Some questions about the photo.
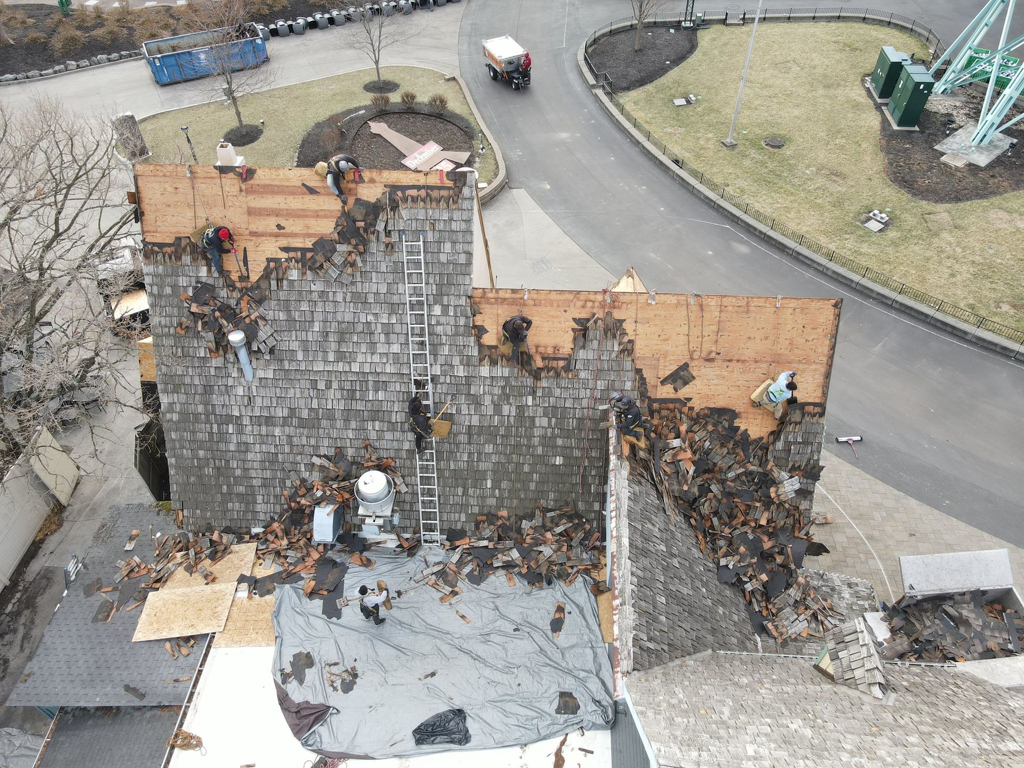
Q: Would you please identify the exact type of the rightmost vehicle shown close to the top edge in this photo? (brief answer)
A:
truck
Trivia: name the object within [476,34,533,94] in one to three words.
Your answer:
truck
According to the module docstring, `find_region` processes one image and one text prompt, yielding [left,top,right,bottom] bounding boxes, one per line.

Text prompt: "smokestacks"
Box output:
[214,133,258,165]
